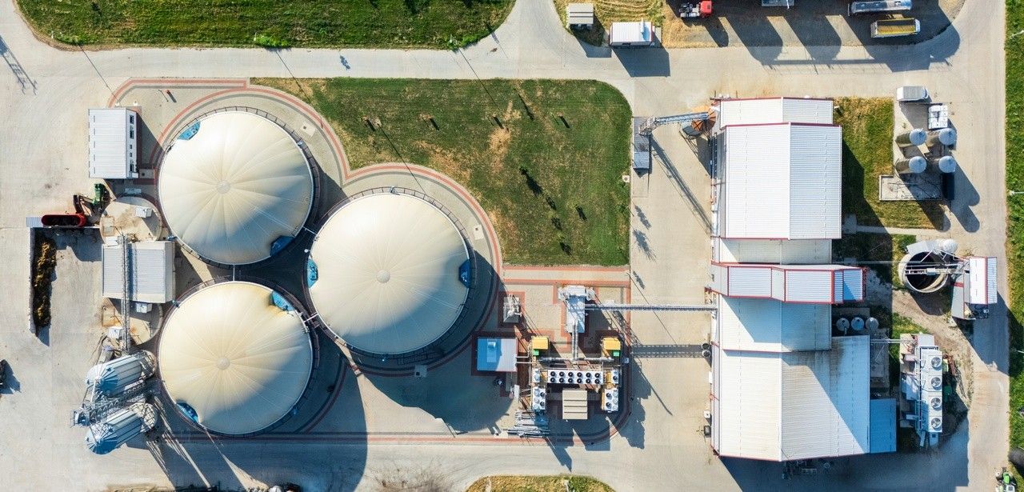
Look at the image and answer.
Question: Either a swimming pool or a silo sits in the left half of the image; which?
silo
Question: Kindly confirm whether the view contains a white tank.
Yes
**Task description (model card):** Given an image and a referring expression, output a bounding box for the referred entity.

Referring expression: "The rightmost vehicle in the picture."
[994,464,1018,492]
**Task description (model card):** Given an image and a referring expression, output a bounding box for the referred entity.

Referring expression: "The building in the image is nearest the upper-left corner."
[89,108,142,179]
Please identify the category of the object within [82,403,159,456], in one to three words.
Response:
silo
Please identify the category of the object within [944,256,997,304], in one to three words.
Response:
house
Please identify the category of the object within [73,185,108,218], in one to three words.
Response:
work vehicle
